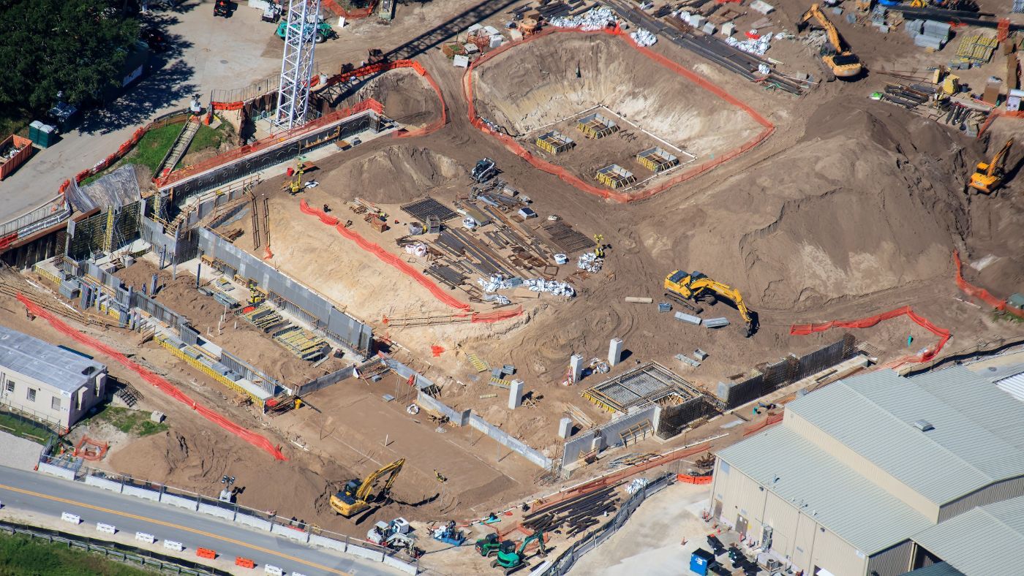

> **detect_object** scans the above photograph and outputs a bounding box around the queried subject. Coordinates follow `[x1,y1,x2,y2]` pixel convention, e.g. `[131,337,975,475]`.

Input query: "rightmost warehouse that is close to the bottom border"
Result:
[708,358,1024,576]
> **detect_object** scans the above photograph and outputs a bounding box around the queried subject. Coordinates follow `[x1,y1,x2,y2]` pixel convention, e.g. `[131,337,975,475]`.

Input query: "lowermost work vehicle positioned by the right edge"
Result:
[967,136,1015,196]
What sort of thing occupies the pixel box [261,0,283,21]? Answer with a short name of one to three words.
work vehicle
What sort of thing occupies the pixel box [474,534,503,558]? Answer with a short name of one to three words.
work vehicle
